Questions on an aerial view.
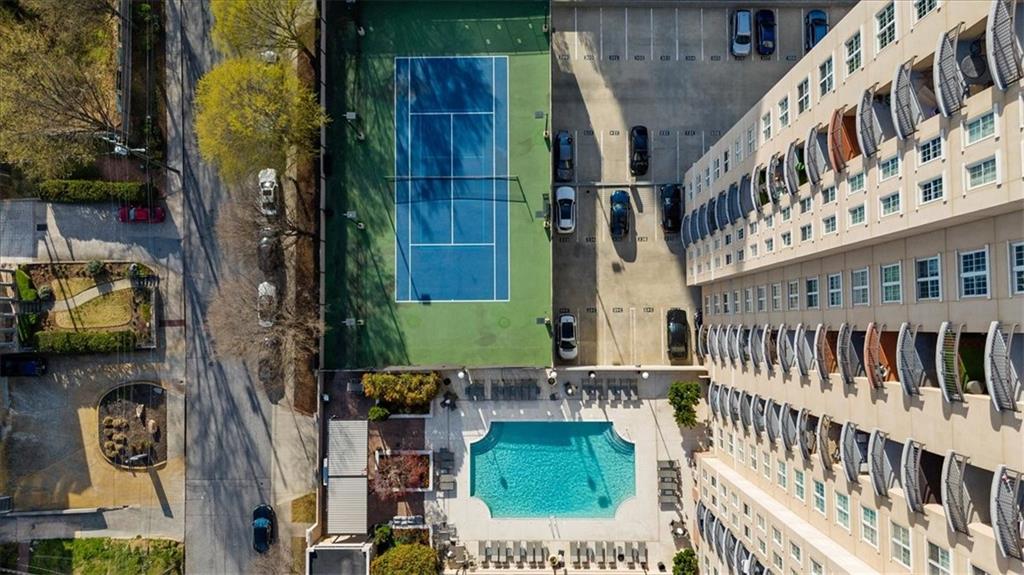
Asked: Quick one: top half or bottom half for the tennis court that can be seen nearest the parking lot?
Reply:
top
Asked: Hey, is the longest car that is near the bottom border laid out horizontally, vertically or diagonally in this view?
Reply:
vertically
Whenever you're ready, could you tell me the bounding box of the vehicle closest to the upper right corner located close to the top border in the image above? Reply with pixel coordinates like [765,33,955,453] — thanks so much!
[805,8,830,51]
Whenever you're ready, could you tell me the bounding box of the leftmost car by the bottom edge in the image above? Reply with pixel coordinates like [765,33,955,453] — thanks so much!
[249,501,275,555]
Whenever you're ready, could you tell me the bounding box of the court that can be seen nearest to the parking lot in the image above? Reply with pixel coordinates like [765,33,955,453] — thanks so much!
[337,0,551,367]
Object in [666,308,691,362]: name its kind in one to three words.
car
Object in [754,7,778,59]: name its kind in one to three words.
car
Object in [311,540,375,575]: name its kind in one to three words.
building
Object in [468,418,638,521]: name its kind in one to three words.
swimming pool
